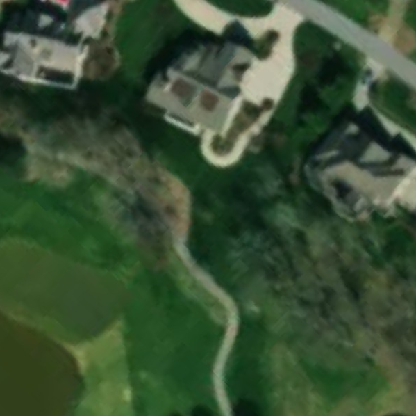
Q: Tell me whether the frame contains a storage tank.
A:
No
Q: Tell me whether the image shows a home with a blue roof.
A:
No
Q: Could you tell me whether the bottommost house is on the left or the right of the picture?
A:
right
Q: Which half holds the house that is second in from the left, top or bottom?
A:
top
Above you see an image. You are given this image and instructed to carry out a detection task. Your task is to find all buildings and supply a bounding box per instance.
[0,0,118,87]
[306,111,416,212]
[141,23,266,135]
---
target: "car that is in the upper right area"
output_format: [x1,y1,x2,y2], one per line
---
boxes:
[360,70,373,87]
